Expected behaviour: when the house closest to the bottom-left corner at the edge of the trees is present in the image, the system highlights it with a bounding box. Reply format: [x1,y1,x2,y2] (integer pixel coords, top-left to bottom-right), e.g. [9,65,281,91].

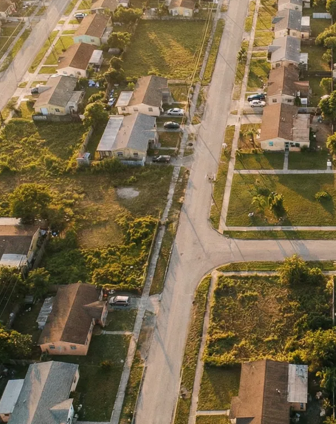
[0,361,82,424]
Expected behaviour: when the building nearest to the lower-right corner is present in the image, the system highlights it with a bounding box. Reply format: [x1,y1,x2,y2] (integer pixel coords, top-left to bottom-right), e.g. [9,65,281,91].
[230,360,310,424]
